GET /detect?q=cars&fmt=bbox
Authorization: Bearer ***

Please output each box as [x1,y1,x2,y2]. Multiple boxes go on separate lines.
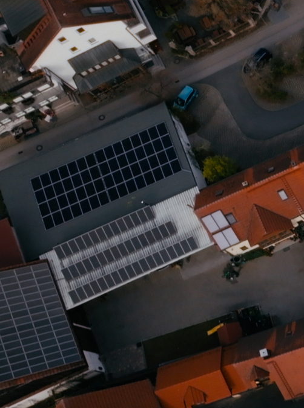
[242,43,275,75]
[170,82,201,111]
